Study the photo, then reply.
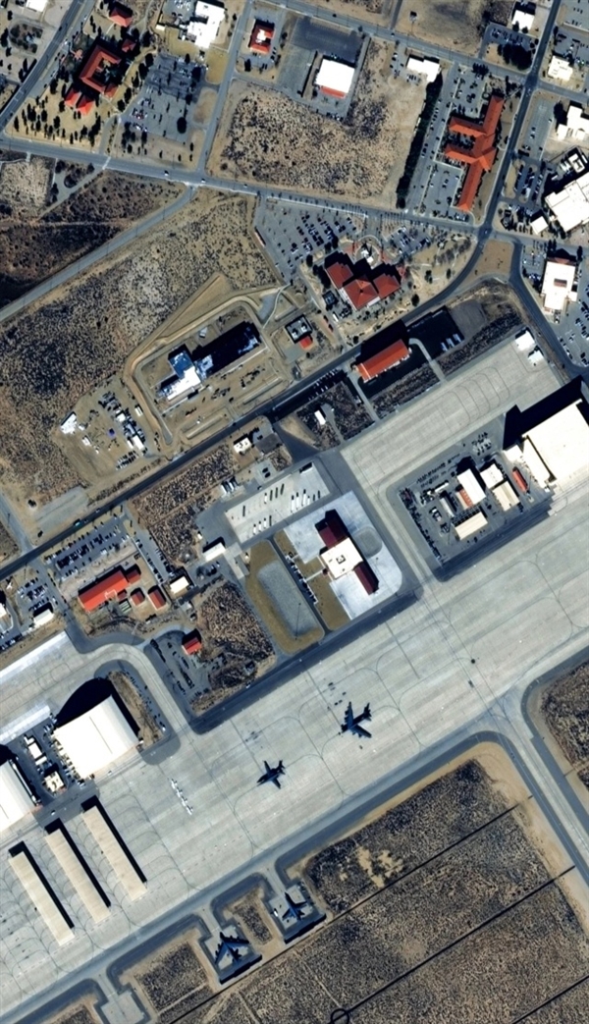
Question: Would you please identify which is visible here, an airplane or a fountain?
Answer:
airplane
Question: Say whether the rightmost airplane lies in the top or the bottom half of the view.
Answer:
bottom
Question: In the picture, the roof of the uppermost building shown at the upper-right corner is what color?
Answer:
white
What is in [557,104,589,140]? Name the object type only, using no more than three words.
building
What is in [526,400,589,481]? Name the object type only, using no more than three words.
hangar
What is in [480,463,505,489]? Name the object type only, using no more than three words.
building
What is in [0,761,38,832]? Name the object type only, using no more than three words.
hangar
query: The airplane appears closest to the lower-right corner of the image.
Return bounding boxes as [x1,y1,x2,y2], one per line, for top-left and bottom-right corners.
[284,893,307,922]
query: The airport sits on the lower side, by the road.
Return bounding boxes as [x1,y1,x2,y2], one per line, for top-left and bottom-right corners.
[0,328,589,1024]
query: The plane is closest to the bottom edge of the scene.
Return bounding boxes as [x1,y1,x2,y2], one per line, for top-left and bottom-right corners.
[219,933,253,967]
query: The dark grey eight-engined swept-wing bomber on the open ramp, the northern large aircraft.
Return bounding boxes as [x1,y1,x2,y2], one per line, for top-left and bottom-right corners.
[343,702,376,738]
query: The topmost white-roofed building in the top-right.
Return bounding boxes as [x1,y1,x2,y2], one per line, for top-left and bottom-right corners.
[512,9,536,30]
